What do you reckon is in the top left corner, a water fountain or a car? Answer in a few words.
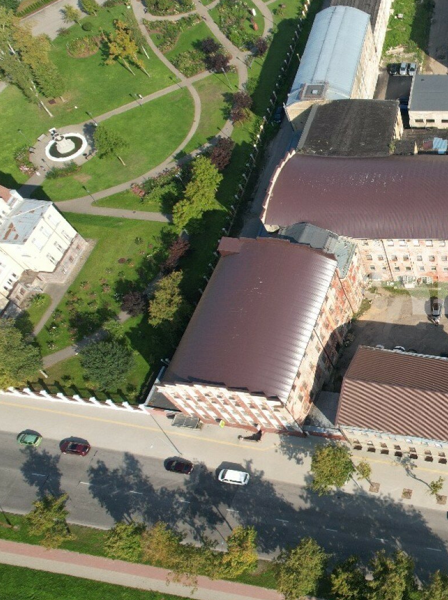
water fountain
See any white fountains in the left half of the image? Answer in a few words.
Yes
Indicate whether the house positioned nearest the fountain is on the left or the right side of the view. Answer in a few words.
left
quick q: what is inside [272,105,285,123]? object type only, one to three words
vehicle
